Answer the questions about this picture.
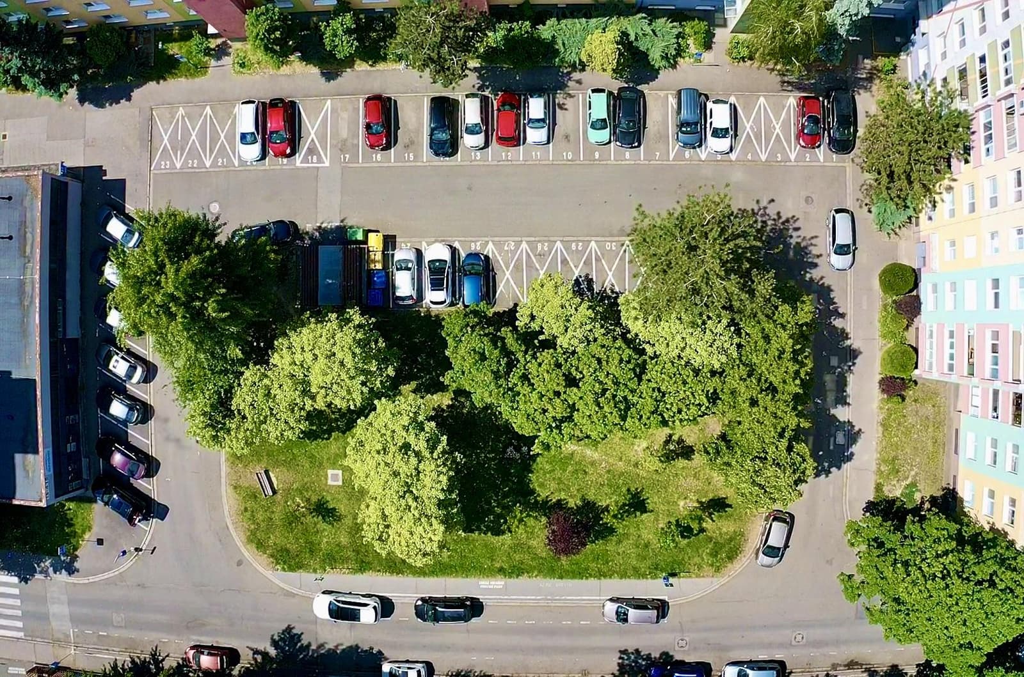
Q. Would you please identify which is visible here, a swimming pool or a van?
van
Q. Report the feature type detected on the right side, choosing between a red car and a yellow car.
red car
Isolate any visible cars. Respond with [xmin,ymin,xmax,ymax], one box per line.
[95,206,149,249]
[390,248,418,304]
[92,251,141,293]
[98,388,152,428]
[524,95,551,146]
[315,591,381,624]
[756,508,792,567]
[379,655,434,677]
[825,91,858,154]
[586,89,614,146]
[603,596,661,626]
[706,100,735,154]
[235,101,266,161]
[97,344,154,385]
[92,476,154,525]
[460,95,488,150]
[615,88,644,148]
[238,217,300,246]
[493,94,521,147]
[461,253,489,306]
[795,96,824,149]
[95,296,142,339]
[101,440,156,482]
[428,97,457,157]
[719,659,781,677]
[181,642,235,673]
[424,245,454,306]
[362,96,391,151]
[415,595,471,627]
[265,99,295,157]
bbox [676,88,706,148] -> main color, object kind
blue van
